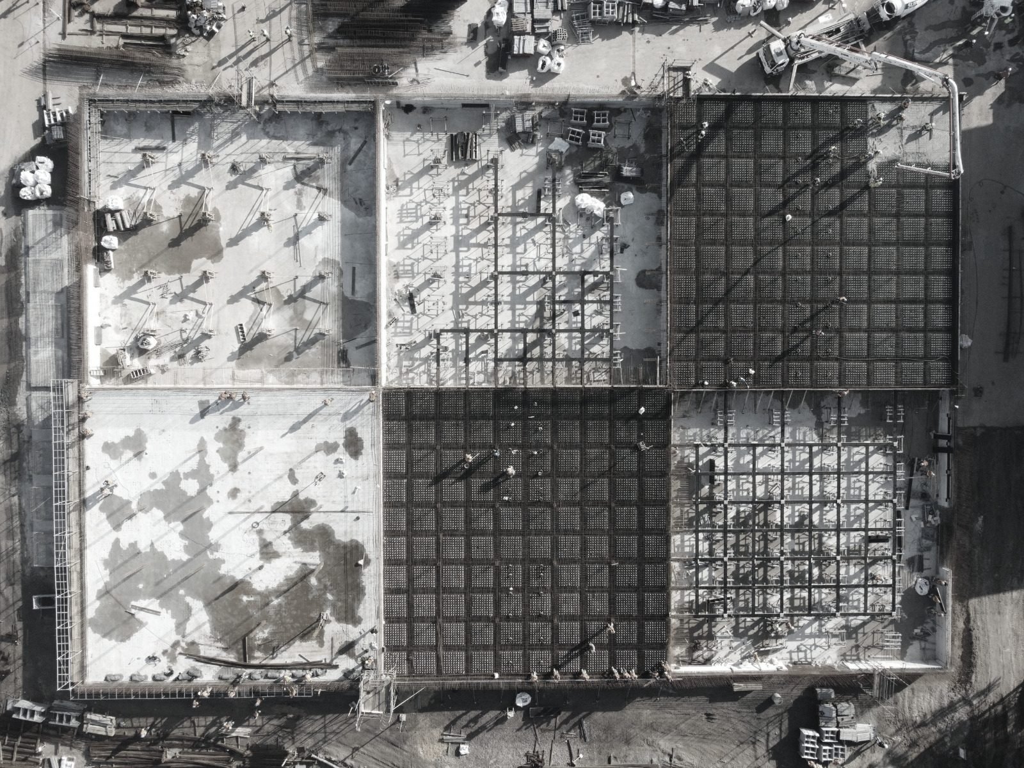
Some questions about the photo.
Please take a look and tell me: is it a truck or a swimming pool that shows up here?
truck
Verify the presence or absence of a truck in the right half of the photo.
Yes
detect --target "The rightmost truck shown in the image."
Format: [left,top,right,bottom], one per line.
[966,0,1015,45]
